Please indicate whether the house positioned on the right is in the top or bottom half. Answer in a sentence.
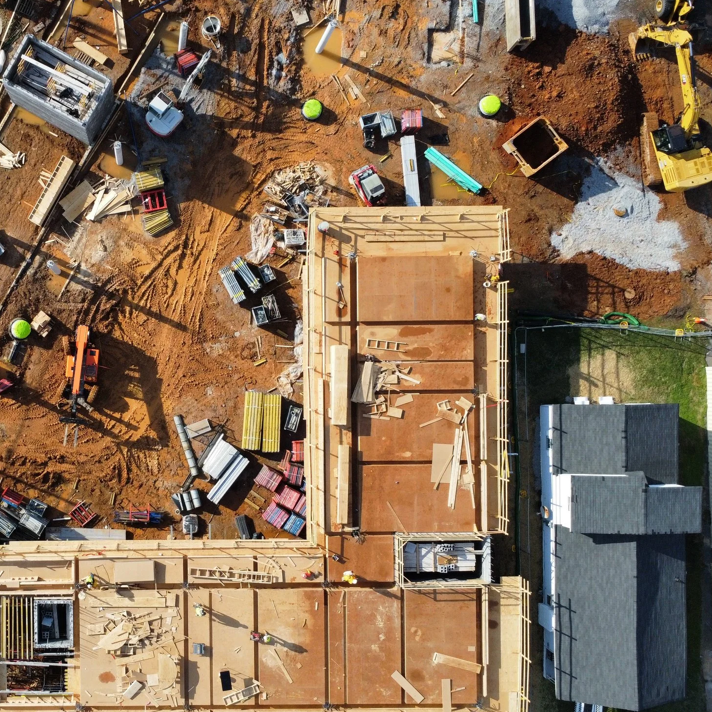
The bottom half of the photo is where the house positioned on the right is.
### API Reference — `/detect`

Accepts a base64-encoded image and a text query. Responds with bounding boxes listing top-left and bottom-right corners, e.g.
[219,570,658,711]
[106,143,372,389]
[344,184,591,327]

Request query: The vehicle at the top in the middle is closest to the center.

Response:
[346,165,389,206]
